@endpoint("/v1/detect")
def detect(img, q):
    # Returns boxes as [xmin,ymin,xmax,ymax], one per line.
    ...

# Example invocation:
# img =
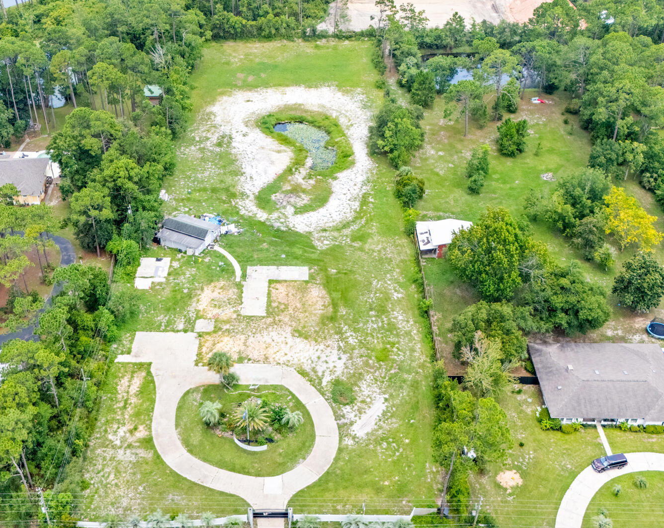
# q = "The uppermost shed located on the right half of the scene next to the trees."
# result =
[416,219,472,260]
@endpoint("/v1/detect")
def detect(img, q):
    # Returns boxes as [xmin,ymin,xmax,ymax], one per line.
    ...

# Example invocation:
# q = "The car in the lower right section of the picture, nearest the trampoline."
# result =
[589,449,628,471]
